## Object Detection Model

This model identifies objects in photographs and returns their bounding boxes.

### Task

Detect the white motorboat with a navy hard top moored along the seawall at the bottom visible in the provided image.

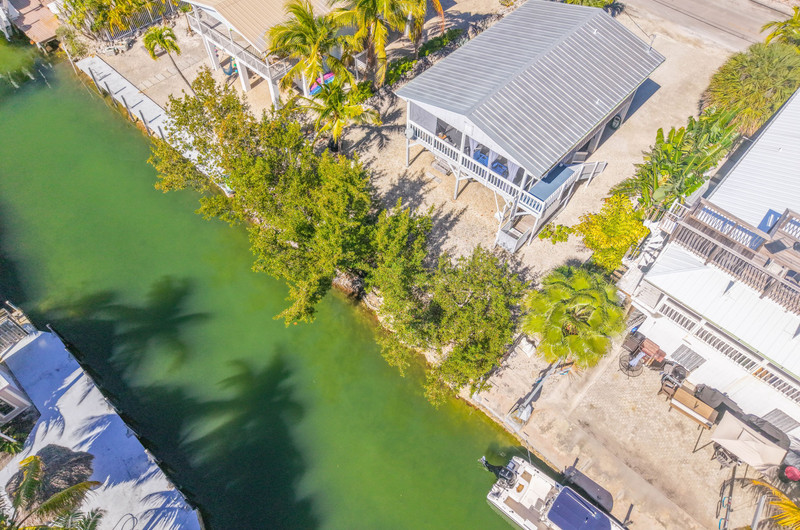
[470,450,609,530]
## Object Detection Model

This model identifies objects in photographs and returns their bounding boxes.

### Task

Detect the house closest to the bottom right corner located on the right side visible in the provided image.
[617,82,800,451]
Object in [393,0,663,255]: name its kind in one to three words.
house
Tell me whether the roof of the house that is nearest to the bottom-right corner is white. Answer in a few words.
Yes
